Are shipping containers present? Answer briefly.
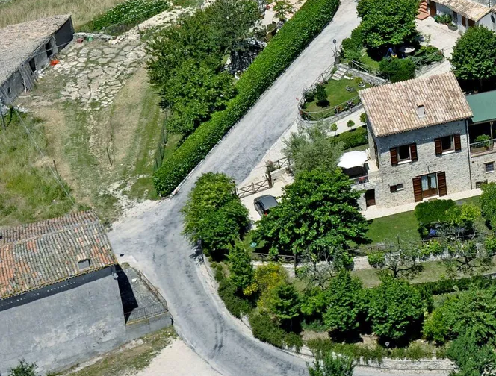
No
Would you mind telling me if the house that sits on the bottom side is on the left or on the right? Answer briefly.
left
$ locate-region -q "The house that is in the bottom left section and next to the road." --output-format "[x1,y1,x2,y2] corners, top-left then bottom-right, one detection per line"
[0,209,125,371]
